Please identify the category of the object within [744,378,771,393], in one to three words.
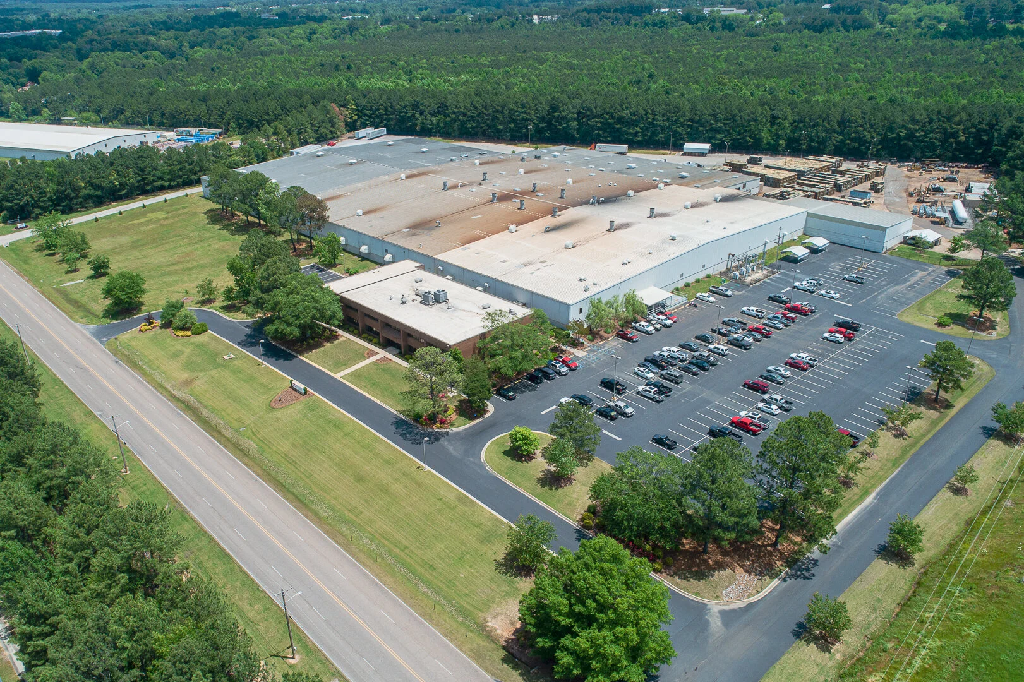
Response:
car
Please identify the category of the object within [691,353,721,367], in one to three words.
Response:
vehicle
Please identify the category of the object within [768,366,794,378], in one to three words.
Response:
vehicle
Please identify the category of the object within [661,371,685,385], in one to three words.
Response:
car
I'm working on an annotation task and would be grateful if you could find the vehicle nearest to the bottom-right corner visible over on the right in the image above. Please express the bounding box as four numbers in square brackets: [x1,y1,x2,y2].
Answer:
[828,427,866,446]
